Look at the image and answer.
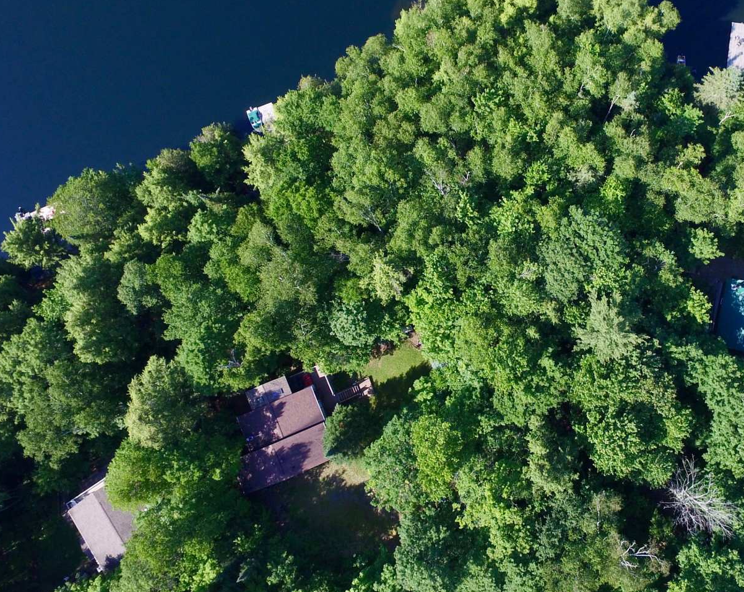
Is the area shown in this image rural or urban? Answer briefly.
rural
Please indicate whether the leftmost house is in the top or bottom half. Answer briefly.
bottom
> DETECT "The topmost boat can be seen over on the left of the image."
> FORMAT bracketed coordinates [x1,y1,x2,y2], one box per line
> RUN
[246,106,262,131]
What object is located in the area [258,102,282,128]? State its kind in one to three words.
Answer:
pier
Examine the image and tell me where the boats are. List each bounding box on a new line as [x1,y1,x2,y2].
[246,106,262,131]
[15,208,30,222]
